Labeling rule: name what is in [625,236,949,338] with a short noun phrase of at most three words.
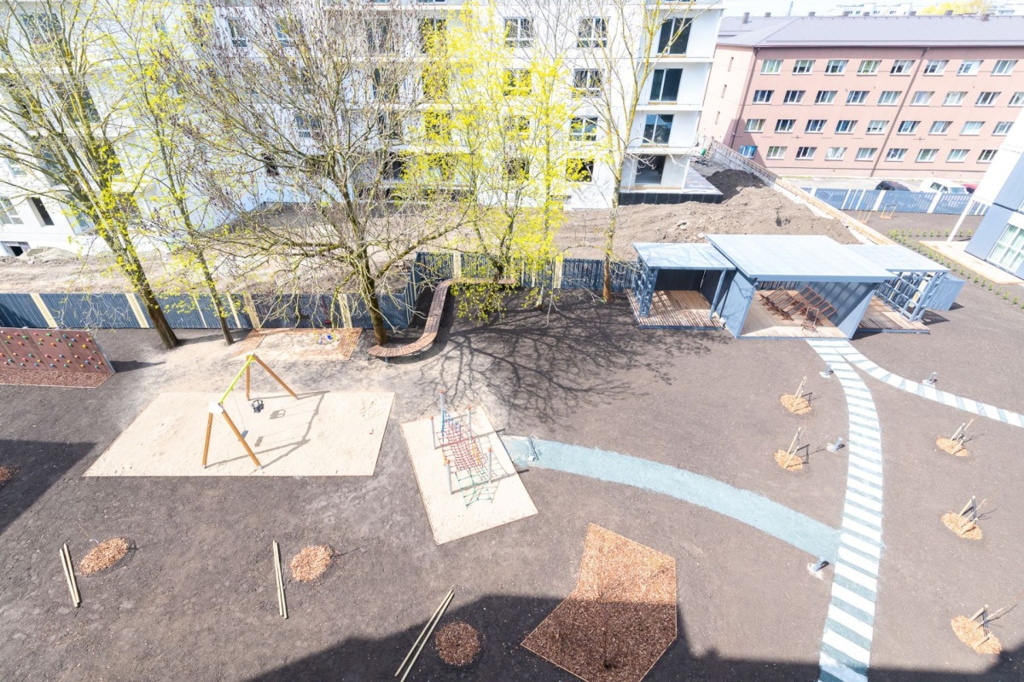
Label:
building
